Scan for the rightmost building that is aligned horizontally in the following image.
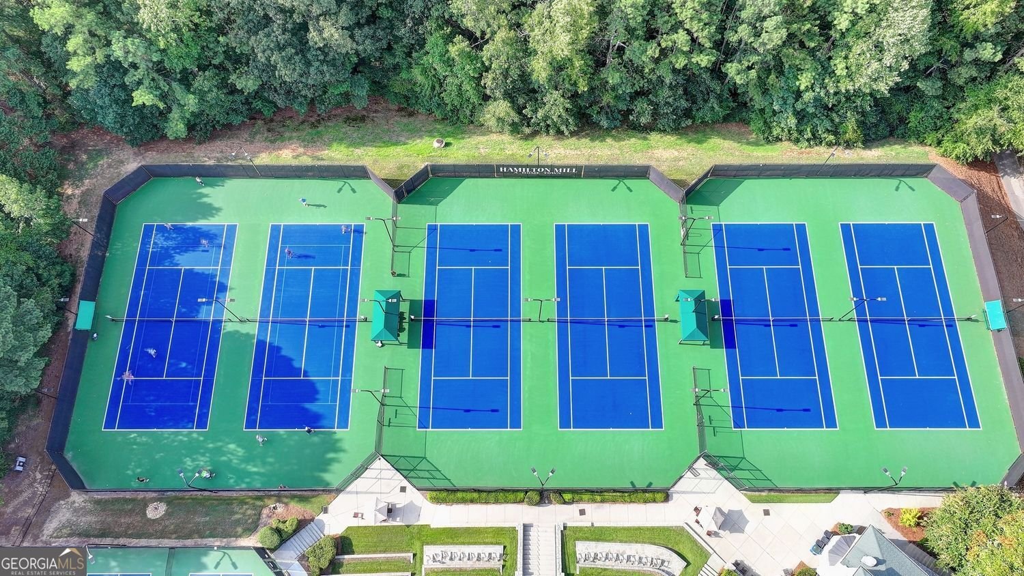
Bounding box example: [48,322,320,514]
[815,524,930,576]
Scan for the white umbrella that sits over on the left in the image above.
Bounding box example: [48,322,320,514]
[356,497,386,526]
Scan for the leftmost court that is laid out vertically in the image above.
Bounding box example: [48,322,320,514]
[103,224,237,430]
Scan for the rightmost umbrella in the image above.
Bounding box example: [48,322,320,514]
[694,502,721,534]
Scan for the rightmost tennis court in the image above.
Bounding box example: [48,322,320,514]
[840,223,981,429]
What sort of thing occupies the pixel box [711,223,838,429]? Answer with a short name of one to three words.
tennis court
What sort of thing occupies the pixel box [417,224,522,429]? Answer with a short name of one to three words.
tennis court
